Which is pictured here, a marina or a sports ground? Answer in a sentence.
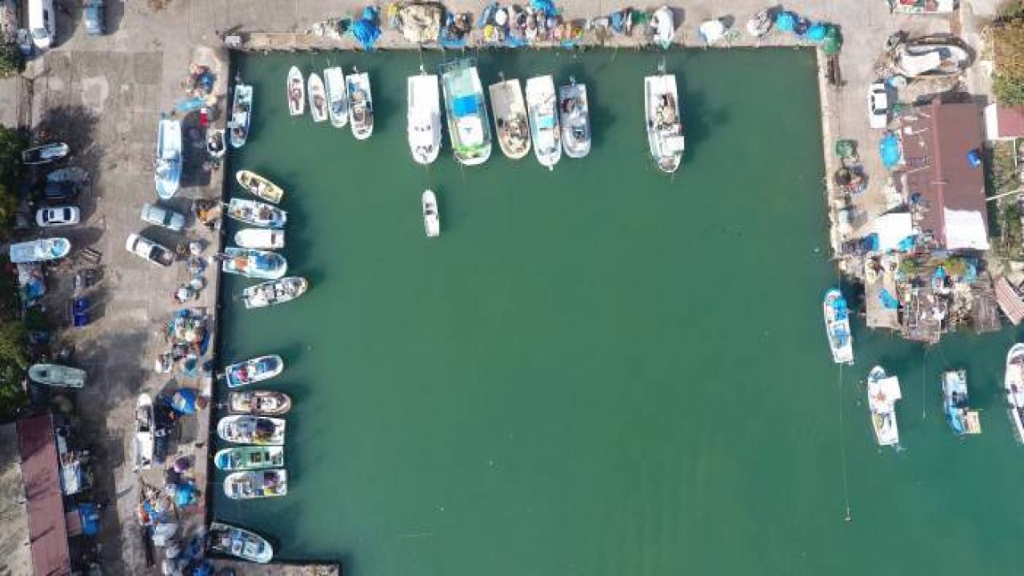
What you see here is a marina.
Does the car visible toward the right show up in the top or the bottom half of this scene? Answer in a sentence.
It is in the top half that the car visible toward the right appears.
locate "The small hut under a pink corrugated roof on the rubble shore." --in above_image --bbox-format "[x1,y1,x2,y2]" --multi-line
[992,275,1024,327]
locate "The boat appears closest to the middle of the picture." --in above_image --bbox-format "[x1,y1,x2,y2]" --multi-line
[424,189,439,240]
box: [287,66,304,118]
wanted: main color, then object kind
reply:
white boat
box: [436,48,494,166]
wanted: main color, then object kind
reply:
white boat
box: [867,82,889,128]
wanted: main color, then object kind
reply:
white car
